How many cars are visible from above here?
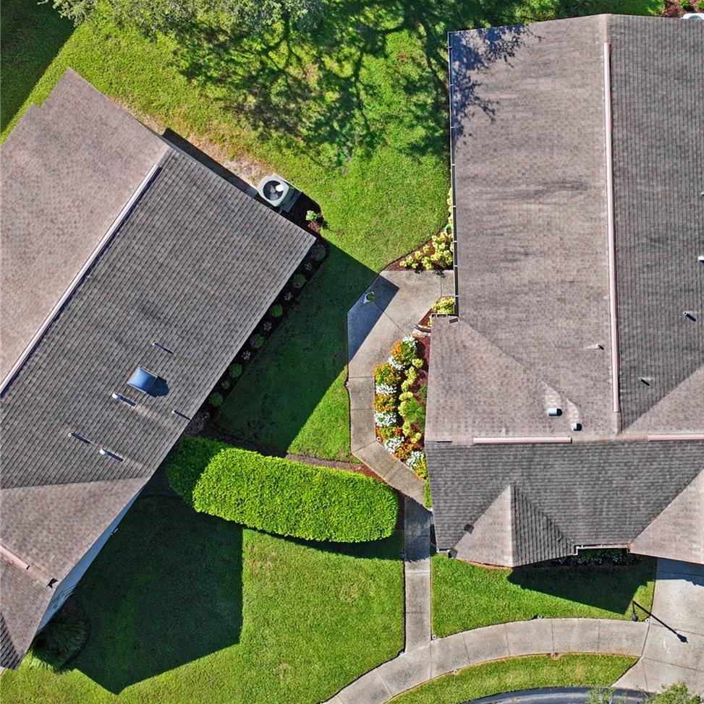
0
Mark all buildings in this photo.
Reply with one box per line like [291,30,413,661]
[0,67,316,675]
[427,12,704,567]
